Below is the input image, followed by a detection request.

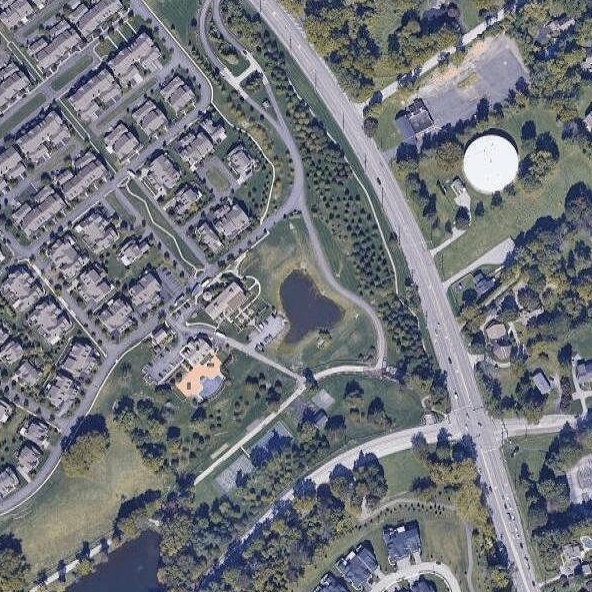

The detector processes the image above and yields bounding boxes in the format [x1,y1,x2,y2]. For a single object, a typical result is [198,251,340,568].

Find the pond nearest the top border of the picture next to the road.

[279,269,343,345]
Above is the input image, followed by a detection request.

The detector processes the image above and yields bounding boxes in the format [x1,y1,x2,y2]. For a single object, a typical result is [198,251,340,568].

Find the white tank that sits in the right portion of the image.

[463,137,520,192]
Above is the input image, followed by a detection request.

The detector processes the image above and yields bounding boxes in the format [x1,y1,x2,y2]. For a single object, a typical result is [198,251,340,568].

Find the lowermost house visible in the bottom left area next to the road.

[0,466,21,496]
